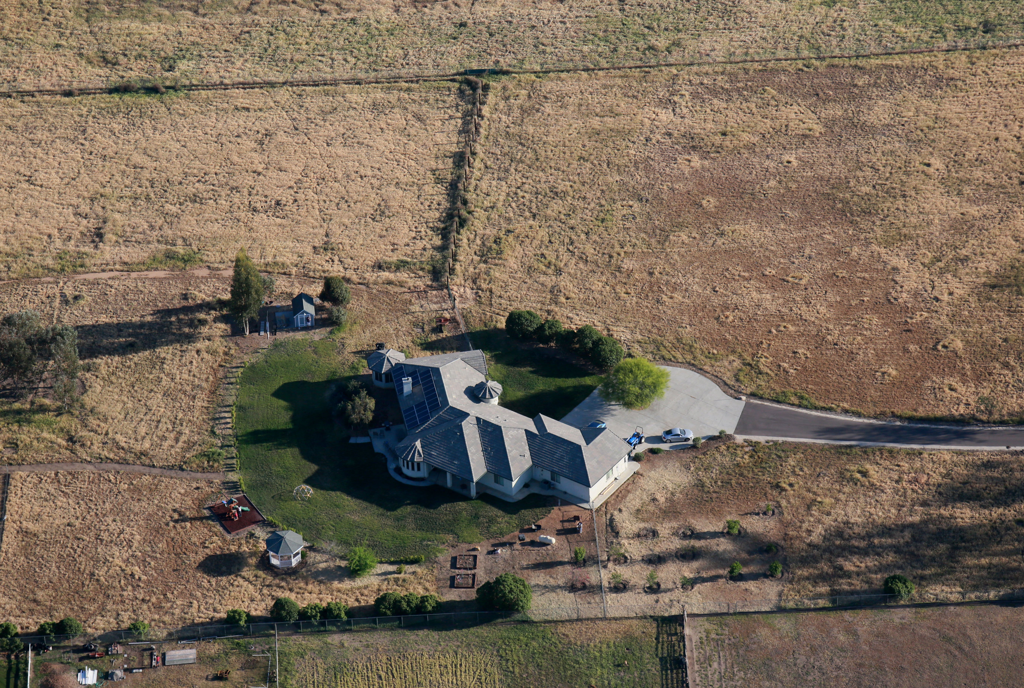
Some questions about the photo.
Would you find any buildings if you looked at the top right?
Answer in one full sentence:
No, looking at the top right, there is no building.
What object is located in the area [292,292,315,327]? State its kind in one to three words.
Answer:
shed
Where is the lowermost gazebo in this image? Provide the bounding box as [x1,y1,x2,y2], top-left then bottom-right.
[265,530,305,571]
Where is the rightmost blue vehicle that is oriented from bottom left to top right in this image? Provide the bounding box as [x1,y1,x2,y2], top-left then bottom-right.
[626,424,645,454]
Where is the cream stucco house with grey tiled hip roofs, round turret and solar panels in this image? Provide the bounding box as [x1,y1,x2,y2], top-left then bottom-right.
[367,348,632,501]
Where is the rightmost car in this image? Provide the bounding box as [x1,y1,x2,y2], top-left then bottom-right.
[661,426,694,443]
